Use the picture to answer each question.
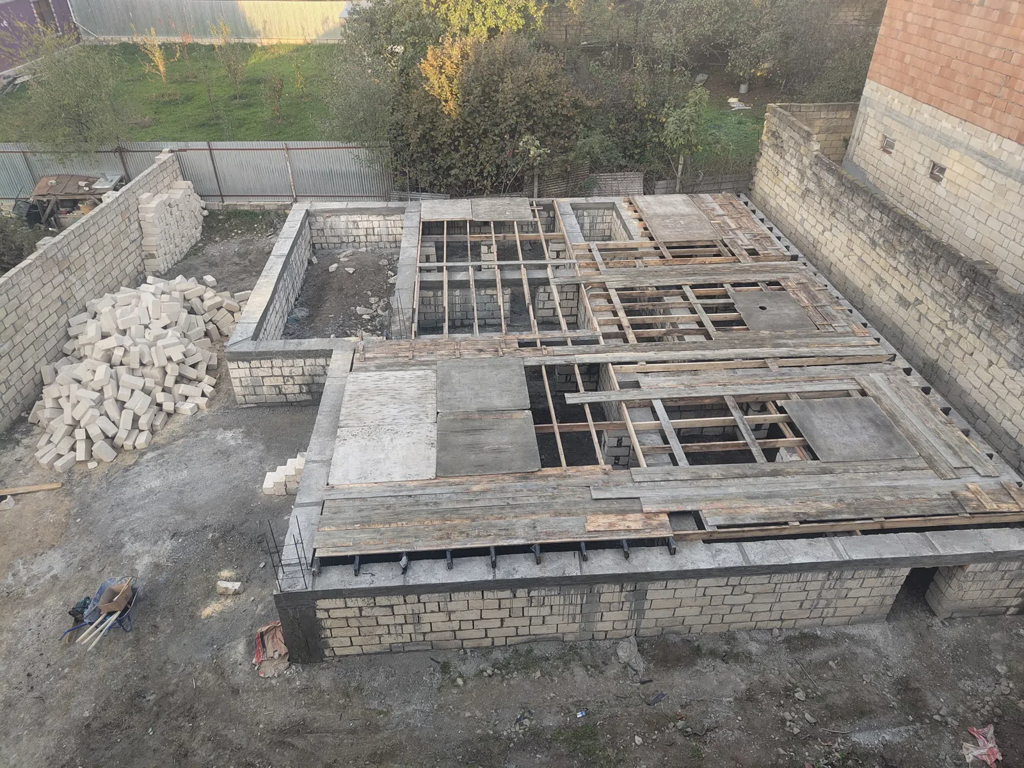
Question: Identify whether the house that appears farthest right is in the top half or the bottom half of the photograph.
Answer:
top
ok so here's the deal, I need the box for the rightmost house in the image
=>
[849,0,1024,289]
